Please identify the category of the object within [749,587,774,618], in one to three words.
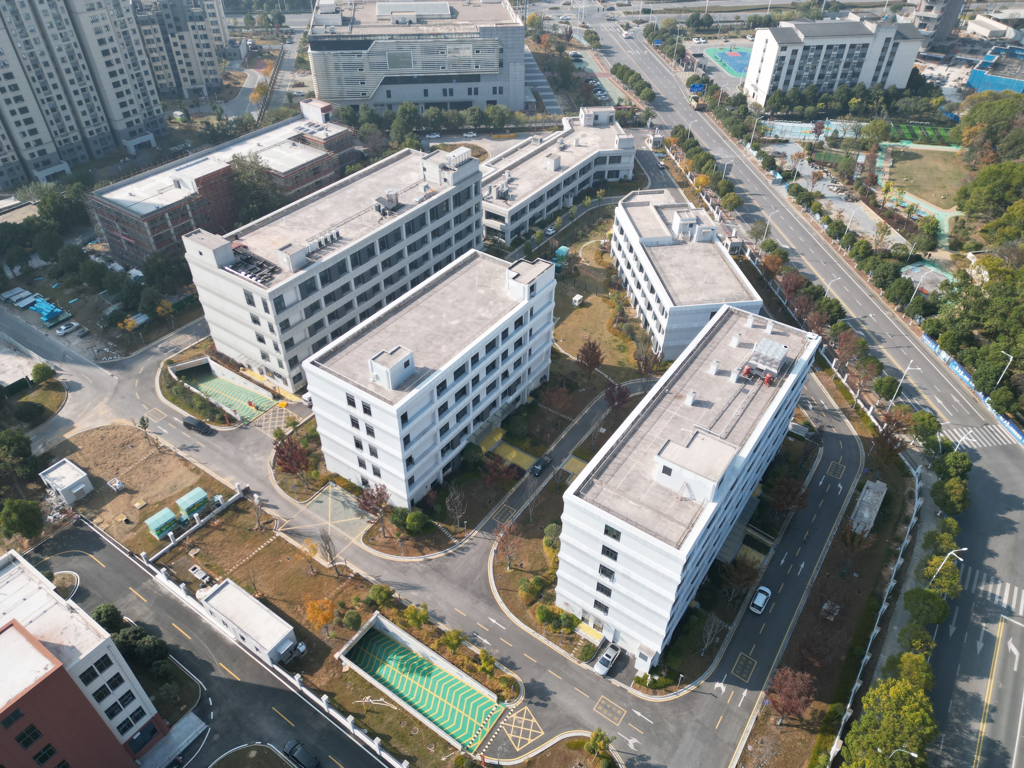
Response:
car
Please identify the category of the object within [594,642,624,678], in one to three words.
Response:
car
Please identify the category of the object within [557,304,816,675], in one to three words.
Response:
building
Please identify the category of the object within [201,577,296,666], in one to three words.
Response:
building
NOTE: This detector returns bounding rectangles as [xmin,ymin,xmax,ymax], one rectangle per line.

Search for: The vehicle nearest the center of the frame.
[530,451,556,477]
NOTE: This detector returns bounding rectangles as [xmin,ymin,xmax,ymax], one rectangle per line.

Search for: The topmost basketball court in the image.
[705,47,755,77]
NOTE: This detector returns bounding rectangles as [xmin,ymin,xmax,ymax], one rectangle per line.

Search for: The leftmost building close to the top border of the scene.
[0,0,168,193]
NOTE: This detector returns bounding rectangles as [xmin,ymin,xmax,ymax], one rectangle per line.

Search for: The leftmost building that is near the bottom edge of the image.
[0,532,216,768]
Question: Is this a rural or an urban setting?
urban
